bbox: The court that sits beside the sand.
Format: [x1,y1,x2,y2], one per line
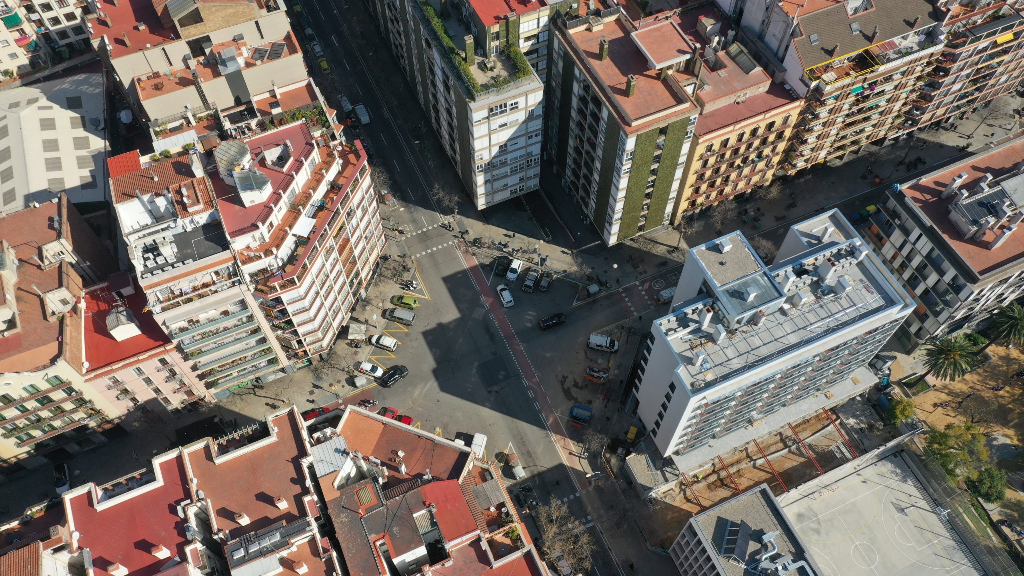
[779,450,978,576]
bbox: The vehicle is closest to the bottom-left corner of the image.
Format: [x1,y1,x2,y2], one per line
[54,464,71,494]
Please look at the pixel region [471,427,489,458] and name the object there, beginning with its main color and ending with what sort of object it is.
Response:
white vehicle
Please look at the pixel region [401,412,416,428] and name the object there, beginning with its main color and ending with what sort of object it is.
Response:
red car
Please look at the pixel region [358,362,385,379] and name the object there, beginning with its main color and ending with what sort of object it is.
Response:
white car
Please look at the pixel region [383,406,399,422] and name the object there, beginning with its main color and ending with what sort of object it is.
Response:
red car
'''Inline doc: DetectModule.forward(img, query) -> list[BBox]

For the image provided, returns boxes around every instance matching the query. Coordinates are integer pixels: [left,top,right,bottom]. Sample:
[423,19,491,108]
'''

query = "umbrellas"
[349,325,366,340]
[118,110,137,126]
